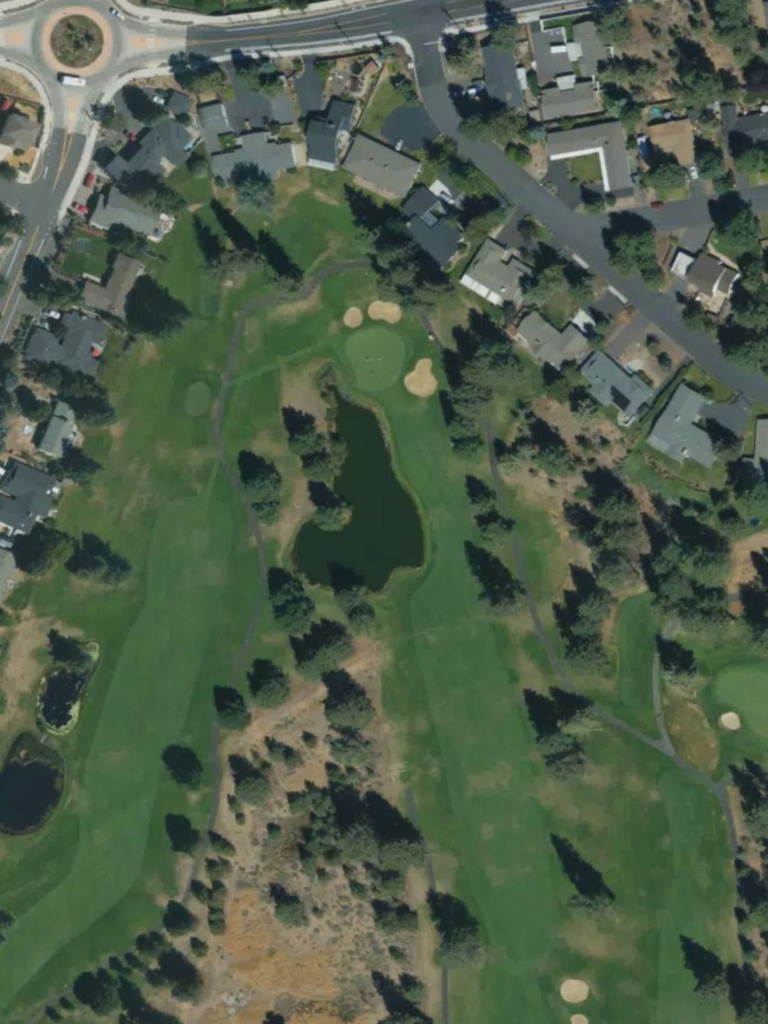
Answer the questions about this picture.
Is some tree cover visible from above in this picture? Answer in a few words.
Yes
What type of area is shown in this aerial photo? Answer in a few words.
golf course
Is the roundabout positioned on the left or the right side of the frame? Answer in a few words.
left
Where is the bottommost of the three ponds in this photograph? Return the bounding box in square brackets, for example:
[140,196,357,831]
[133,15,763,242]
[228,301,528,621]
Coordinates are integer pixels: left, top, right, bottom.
[0,762,61,831]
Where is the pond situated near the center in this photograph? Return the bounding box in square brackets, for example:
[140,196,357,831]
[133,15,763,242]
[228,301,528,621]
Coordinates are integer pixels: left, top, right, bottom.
[294,391,423,589]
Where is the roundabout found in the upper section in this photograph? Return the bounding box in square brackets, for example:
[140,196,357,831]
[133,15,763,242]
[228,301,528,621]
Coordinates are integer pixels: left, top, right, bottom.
[0,0,186,133]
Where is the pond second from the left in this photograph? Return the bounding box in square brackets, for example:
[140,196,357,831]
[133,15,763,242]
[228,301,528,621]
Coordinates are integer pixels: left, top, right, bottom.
[43,670,88,727]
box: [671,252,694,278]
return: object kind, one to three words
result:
building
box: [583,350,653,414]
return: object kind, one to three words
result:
house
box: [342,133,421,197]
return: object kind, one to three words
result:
house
